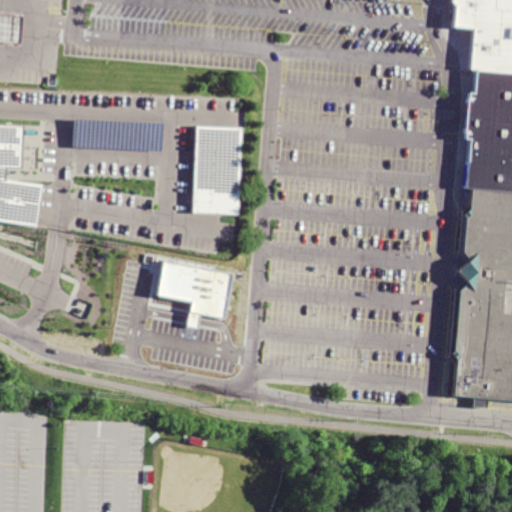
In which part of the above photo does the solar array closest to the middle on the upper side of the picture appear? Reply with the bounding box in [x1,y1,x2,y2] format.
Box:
[198,130,239,192]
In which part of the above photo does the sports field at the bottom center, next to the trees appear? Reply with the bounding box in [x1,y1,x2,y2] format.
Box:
[150,440,254,512]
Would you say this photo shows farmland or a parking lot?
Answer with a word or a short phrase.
parking lot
